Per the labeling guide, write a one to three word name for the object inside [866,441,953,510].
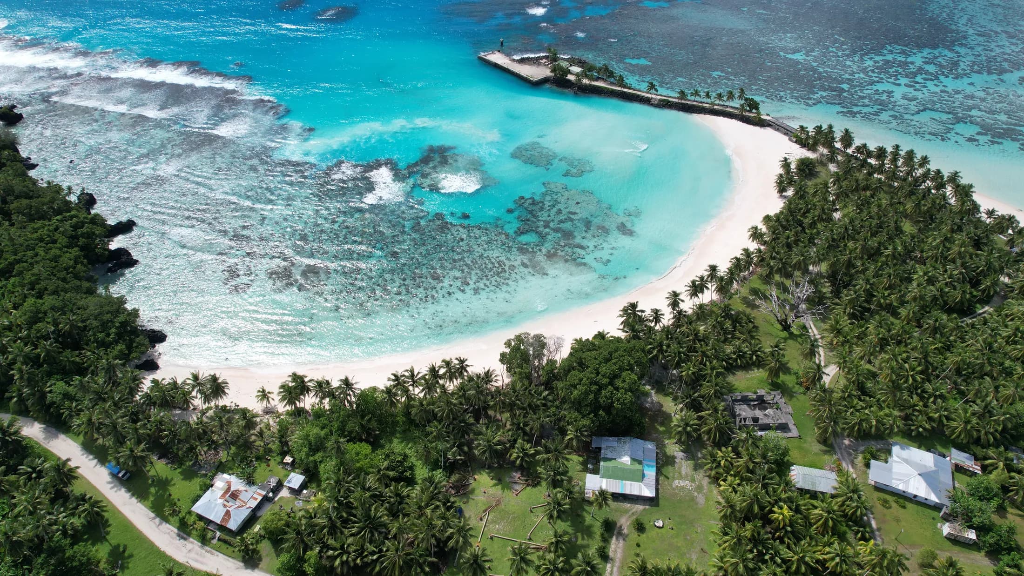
house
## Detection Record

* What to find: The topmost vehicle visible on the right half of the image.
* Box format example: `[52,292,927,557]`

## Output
[926,444,951,459]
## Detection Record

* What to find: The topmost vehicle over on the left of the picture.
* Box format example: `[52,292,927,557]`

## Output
[104,459,131,478]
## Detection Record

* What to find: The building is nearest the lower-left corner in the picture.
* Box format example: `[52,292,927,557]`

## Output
[191,473,267,543]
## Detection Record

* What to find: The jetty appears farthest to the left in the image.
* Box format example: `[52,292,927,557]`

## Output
[479,50,556,84]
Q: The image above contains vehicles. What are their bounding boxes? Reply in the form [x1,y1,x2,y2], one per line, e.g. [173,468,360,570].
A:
[104,459,131,478]
[926,444,951,459]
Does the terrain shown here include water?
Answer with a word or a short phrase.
Yes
